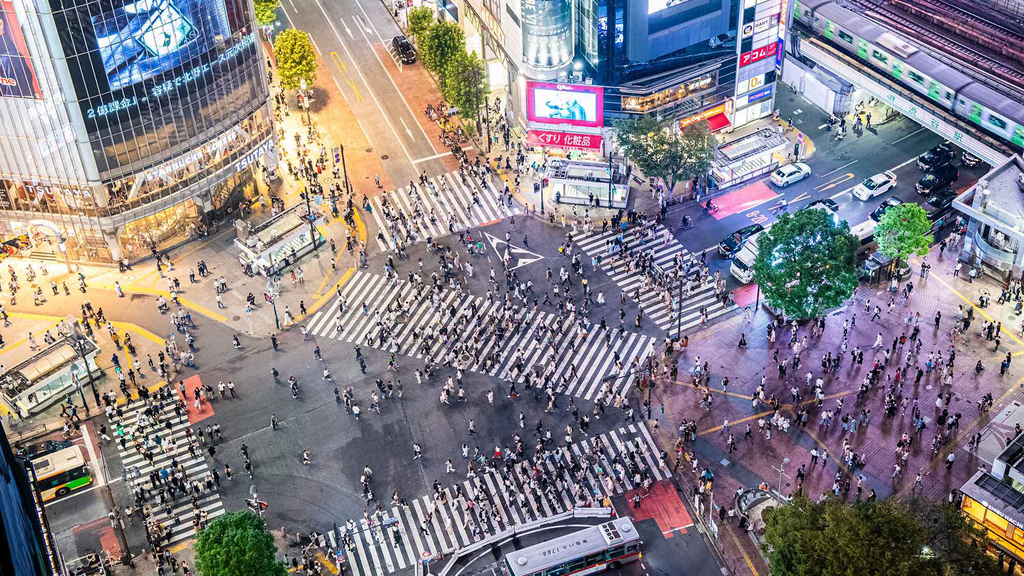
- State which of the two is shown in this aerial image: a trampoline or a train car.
train car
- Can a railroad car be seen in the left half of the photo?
No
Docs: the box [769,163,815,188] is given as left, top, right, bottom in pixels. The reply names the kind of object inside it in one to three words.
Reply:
car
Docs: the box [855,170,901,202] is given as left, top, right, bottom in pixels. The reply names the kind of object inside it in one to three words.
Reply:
car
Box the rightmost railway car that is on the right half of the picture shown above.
[954,78,1024,162]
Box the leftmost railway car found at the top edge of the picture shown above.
[787,0,818,31]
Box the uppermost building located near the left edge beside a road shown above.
[0,0,296,264]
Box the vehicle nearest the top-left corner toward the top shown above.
[390,25,416,58]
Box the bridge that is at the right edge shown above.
[783,0,1024,176]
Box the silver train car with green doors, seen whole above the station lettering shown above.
[813,0,977,117]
